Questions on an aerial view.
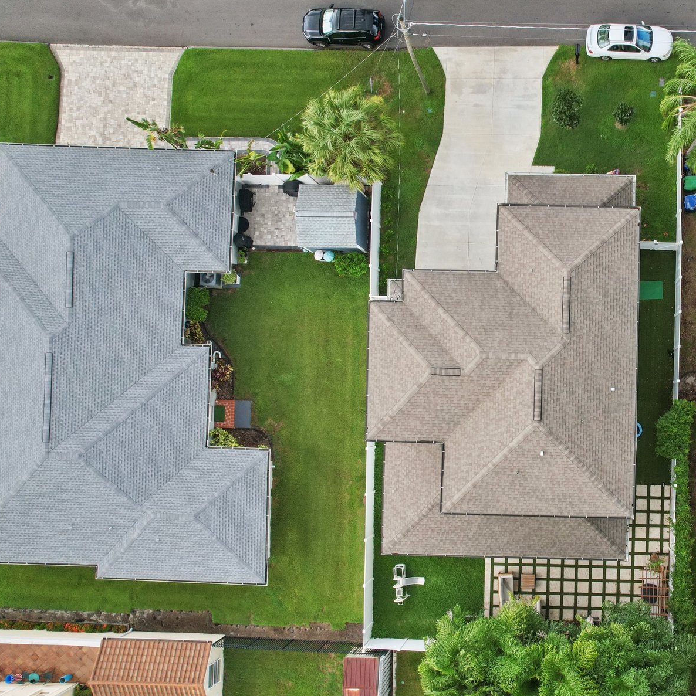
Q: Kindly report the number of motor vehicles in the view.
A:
2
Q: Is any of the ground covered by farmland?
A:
No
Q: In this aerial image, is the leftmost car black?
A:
Yes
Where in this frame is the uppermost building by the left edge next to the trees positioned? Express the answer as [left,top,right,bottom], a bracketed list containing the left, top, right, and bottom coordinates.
[0,143,276,588]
